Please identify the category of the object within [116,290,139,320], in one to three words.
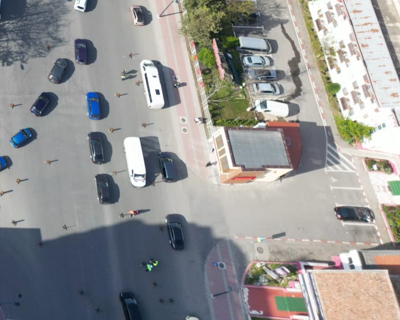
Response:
car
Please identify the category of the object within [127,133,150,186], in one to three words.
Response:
vehicle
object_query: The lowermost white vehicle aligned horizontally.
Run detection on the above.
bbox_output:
[253,98,292,118]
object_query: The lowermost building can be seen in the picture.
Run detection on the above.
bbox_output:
[285,269,400,320]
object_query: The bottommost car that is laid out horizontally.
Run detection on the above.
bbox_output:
[334,206,375,224]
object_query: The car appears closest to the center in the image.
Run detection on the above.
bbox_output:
[157,151,177,183]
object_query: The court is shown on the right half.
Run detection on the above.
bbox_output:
[249,288,296,320]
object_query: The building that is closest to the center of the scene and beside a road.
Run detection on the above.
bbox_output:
[207,122,301,183]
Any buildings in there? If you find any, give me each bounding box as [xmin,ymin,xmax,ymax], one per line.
[285,269,400,320]
[207,122,301,183]
[308,0,400,157]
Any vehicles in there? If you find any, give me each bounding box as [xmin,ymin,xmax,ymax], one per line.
[127,133,150,186]
[116,290,139,320]
[253,98,292,118]
[157,151,177,183]
[334,206,375,224]
[247,67,277,82]
[86,94,101,119]
[164,216,184,249]
[93,173,111,205]
[0,156,9,170]
[87,133,104,163]
[129,3,146,28]
[241,54,272,67]
[48,57,68,84]
[251,82,282,95]
[140,62,170,106]
[29,90,51,118]
[75,38,89,65]
[9,126,34,149]
[74,0,87,13]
